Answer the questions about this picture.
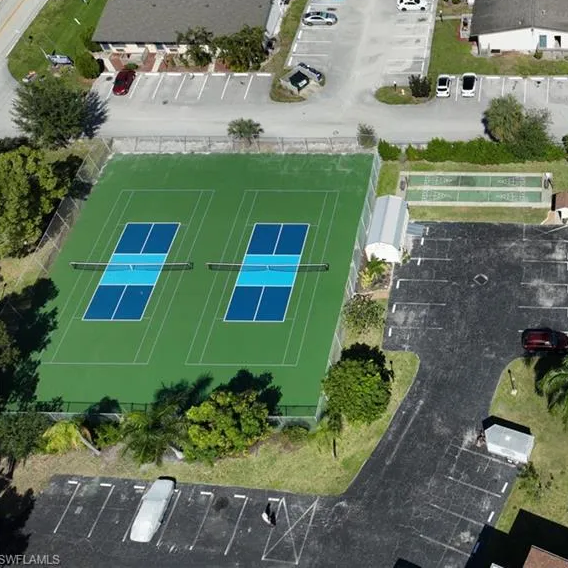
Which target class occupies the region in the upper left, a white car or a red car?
red car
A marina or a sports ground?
sports ground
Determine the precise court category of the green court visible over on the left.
tennis court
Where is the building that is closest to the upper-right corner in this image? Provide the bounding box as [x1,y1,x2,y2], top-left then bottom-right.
[470,0,568,52]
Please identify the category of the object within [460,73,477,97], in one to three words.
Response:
car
